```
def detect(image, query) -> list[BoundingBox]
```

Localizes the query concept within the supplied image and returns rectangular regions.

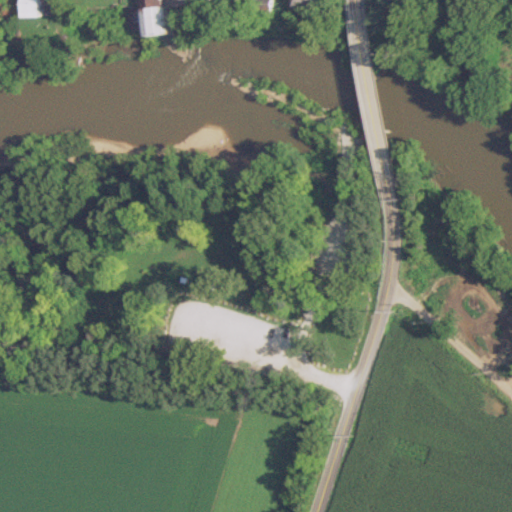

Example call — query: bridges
[348,12,390,172]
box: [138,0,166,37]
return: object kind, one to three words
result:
house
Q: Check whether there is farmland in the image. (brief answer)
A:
Yes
